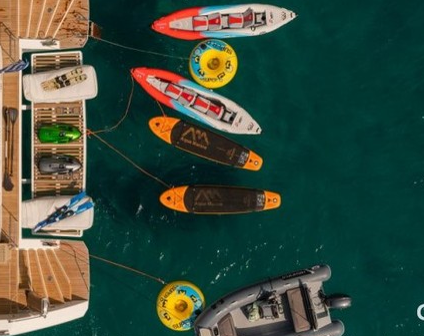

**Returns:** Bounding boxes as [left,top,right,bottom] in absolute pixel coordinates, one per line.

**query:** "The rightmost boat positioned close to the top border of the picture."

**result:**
[151,3,296,39]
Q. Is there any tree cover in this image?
No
